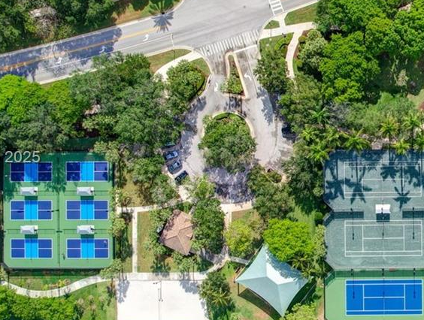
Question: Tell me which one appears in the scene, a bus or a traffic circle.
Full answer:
Of the two, only a traffic circle appears.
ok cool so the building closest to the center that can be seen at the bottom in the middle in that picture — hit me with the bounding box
[162,215,194,251]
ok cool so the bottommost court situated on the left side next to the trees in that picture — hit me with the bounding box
[116,279,209,320]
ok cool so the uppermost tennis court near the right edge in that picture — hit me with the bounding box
[325,150,424,209]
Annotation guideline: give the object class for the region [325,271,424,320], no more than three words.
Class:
tennis court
